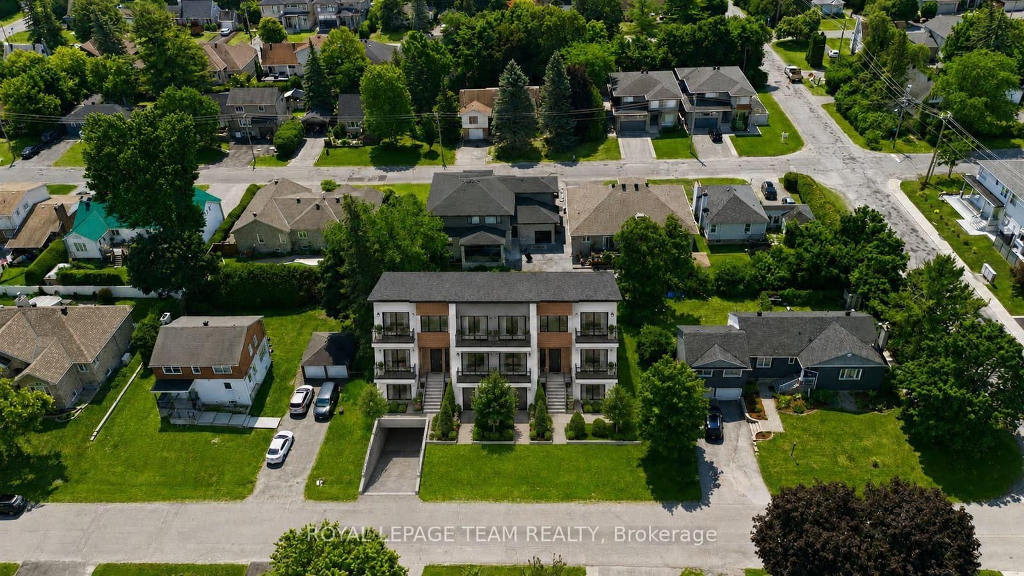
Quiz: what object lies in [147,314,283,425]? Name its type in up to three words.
house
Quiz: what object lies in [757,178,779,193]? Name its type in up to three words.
car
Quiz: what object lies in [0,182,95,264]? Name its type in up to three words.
house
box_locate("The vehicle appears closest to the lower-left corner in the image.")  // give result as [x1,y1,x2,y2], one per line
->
[0,490,32,518]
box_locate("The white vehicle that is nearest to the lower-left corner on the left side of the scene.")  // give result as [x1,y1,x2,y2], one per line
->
[262,429,294,466]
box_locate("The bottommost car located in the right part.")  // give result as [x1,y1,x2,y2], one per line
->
[703,408,729,439]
